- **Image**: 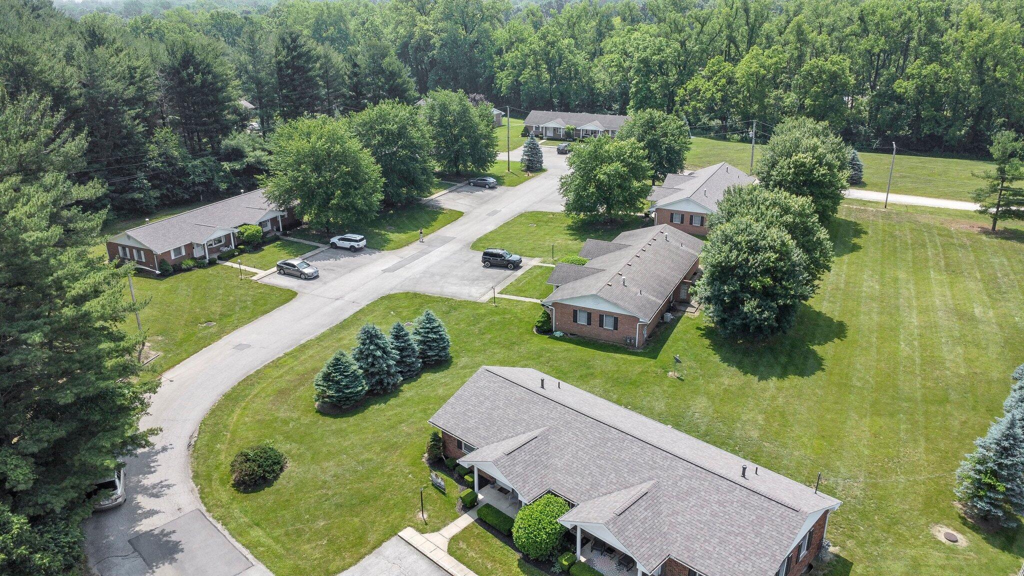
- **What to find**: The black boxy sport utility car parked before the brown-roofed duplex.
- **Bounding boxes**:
[478,245,525,270]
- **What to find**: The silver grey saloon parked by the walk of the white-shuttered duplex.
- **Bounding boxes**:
[275,258,320,279]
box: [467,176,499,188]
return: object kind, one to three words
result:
vehicle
